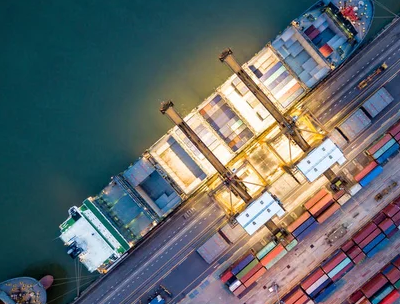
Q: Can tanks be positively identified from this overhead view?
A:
No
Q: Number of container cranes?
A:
2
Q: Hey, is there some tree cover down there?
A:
No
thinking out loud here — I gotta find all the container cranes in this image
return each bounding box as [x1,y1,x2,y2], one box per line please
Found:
[158,99,288,240]
[216,47,347,189]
